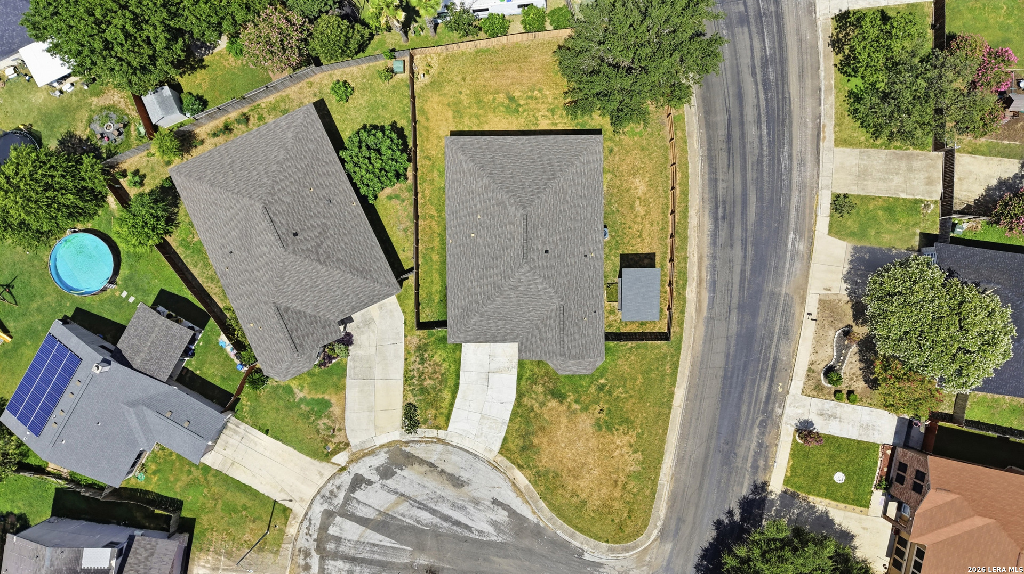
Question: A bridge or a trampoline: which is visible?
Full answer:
There is a trampoline in the scene.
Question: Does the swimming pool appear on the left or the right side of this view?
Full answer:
The swimming pool appears in the left half of the scene.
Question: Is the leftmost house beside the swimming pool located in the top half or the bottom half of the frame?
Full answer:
You can find the leftmost house beside the swimming pool in the bottom half.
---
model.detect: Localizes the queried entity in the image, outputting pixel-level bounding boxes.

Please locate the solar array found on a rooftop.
[5,332,81,437]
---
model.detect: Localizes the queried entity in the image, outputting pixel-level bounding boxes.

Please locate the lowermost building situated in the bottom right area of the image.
[882,448,1024,574]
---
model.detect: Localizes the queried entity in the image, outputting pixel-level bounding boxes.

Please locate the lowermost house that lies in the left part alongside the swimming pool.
[0,318,234,488]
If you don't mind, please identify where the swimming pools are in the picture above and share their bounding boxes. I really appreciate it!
[51,231,122,295]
